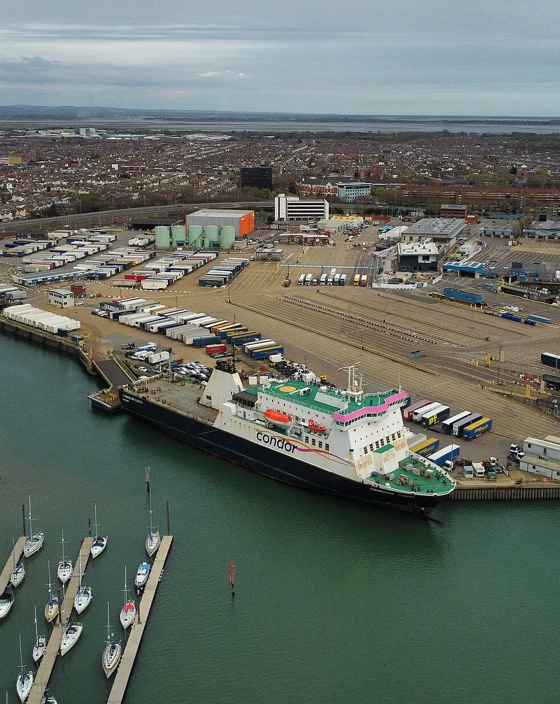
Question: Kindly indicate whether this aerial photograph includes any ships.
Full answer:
Yes, the photo shows a ship.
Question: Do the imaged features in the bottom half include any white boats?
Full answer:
Yes, in the bottom half there is a white boat.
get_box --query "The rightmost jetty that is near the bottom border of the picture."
[107,535,172,704]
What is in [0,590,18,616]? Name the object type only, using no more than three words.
boat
